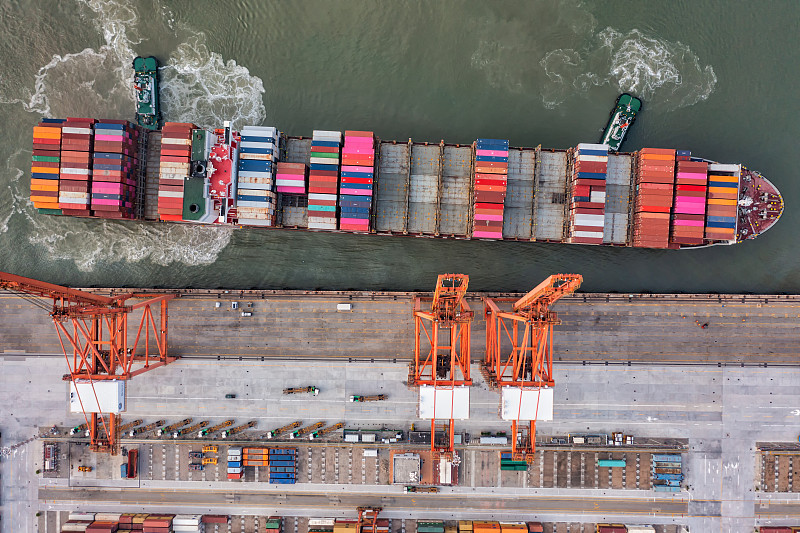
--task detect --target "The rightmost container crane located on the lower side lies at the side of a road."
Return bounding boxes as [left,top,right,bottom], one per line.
[473,270,584,467]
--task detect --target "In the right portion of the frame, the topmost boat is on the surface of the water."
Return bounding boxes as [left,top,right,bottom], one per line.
[594,90,643,152]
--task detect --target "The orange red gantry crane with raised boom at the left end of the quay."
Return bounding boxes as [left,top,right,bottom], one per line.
[0,269,192,460]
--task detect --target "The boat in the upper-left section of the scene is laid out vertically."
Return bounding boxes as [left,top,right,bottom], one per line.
[131,53,164,130]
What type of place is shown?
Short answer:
port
